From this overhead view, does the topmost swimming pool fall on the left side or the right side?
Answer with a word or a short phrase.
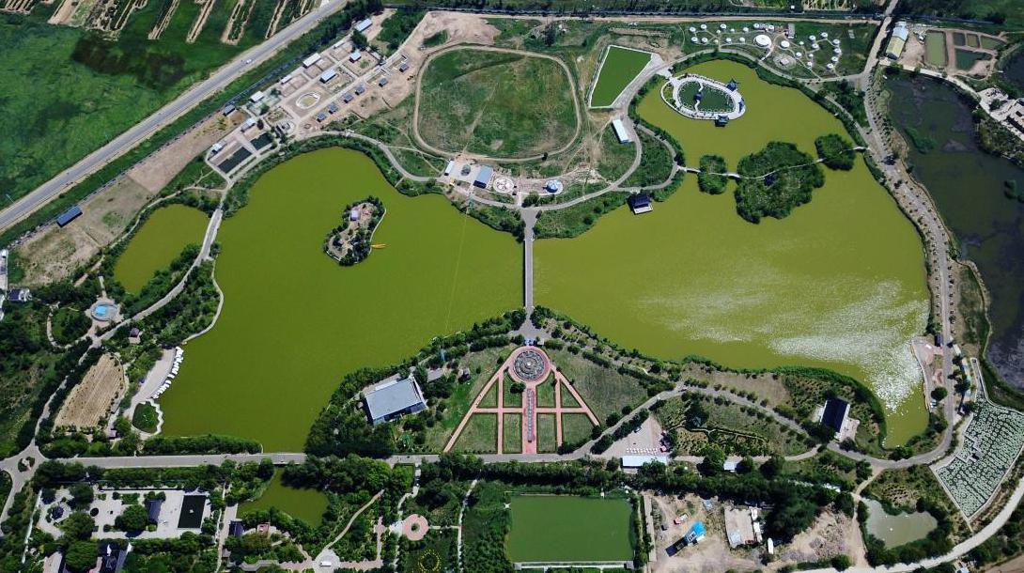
left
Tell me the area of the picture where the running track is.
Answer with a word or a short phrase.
top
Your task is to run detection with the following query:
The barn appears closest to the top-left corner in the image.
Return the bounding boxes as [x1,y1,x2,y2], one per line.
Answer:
[57,206,85,229]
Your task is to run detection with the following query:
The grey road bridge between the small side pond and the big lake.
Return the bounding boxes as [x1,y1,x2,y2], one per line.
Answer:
[190,207,222,271]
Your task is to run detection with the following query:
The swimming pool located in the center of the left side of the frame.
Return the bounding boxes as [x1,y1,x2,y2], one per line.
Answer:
[87,298,121,324]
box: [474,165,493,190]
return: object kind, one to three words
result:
building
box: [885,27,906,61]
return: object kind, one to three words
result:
barn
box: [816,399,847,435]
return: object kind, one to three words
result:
building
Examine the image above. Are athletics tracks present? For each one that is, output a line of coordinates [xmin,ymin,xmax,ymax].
[413,44,582,162]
